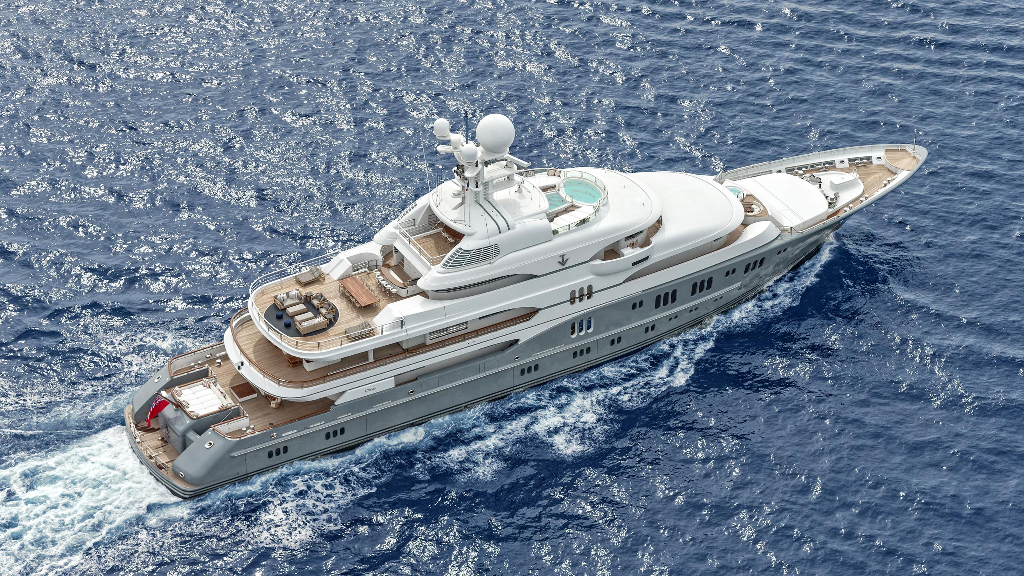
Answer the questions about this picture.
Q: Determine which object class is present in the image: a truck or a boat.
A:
boat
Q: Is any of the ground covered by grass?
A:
No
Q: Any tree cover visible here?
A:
No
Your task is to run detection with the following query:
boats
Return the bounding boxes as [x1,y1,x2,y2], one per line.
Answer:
[122,108,928,496]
